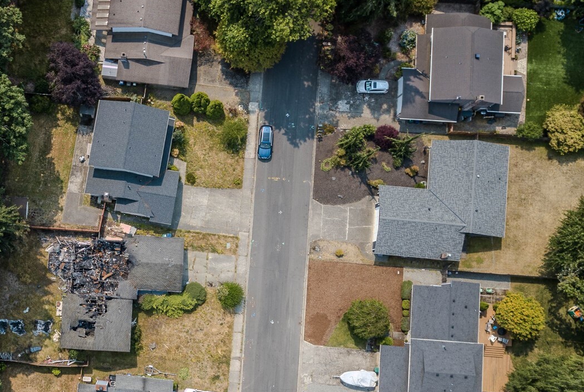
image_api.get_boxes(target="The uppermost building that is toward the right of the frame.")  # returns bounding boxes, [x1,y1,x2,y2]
[384,12,525,123]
